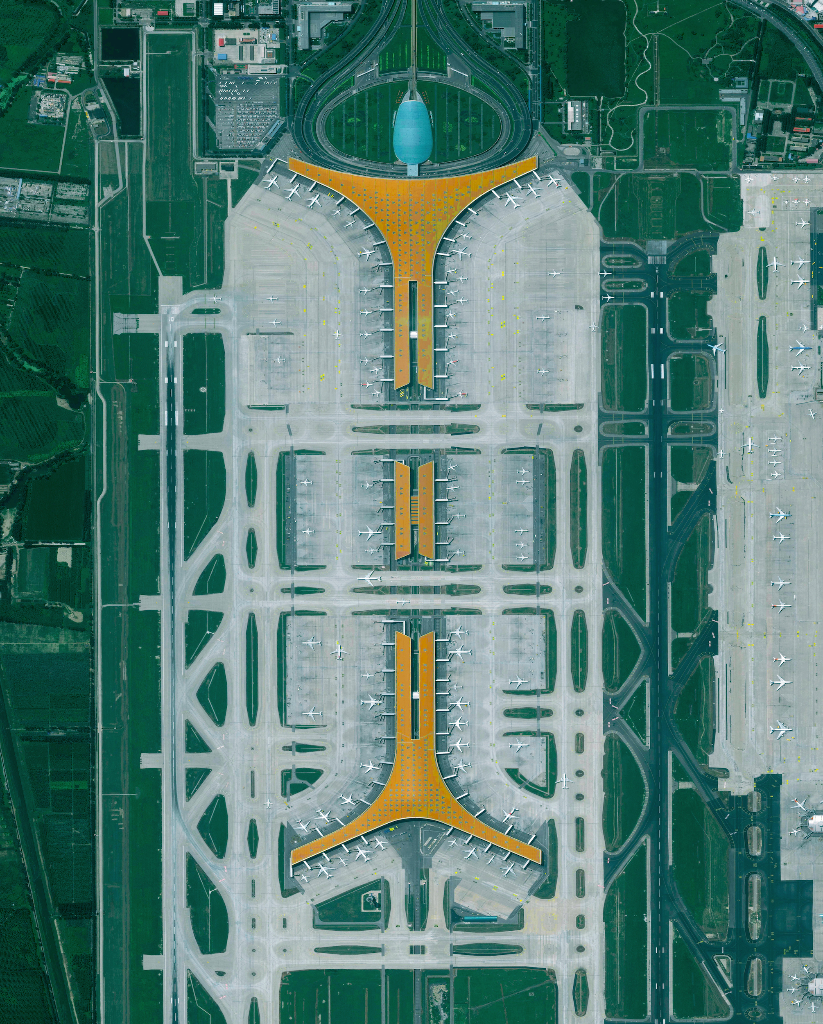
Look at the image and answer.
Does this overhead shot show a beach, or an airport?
airport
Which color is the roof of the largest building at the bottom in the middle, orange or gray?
orange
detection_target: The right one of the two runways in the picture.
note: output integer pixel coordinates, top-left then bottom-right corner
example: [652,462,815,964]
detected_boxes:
[649,255,669,1024]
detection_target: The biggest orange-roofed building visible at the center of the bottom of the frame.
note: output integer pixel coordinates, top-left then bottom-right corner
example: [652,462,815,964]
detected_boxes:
[290,631,542,866]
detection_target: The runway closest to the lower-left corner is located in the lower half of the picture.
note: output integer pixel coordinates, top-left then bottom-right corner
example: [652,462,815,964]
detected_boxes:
[161,305,185,1024]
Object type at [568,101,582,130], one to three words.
building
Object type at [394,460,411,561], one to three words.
building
